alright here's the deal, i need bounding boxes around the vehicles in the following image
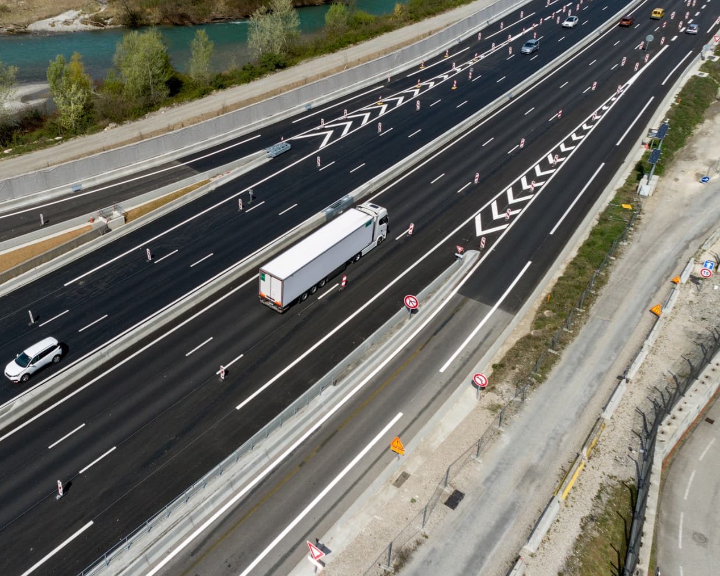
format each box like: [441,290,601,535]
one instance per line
[684,26,701,36]
[521,42,540,54]
[650,7,666,20]
[619,18,635,29]
[259,207,391,314]
[3,336,66,382]
[562,16,578,29]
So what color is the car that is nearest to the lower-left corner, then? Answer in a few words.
white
